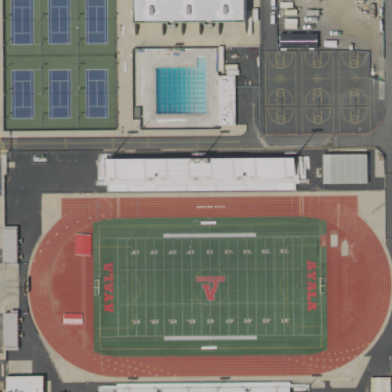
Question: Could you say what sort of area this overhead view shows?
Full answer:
It's a sports ground.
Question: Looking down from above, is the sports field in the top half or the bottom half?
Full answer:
The sports field sits in the bottom half of the picture.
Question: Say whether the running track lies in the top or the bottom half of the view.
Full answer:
You can find the running track in the bottom half.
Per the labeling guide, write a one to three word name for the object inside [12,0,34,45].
tennis court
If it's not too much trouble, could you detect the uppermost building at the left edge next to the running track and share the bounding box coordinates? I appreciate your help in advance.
[2,227,20,264]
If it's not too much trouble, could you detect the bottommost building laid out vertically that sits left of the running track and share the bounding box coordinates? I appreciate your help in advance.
[3,312,20,350]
